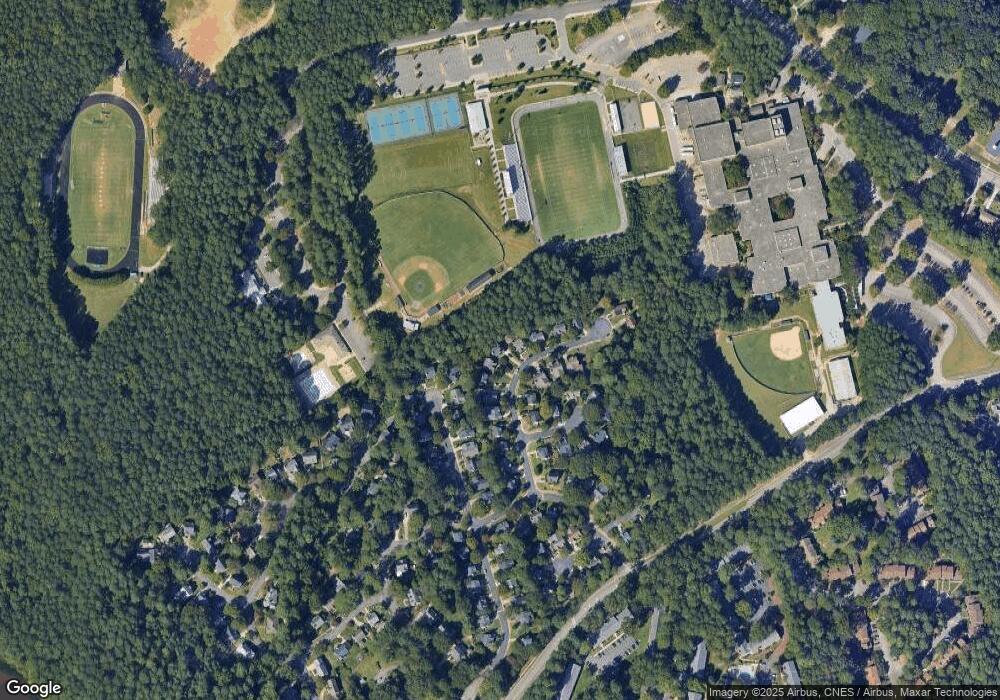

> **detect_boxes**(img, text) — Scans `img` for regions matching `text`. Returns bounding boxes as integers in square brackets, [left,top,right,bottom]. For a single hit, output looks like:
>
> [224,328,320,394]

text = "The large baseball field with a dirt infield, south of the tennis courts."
[374,190,504,322]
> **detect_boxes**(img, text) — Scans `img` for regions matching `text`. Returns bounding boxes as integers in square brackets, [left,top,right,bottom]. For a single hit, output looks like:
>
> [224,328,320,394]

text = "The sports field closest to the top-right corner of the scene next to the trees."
[615,130,674,176]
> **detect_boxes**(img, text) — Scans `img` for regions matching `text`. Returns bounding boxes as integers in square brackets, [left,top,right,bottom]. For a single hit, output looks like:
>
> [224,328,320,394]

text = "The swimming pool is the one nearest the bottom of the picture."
[729,663,758,685]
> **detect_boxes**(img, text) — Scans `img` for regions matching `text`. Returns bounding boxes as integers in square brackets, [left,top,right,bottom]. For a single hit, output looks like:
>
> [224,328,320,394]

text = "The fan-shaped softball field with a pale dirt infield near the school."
[731,322,815,394]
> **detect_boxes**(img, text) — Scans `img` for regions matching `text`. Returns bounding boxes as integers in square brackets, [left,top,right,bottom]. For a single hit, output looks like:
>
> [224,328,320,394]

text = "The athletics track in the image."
[60,93,145,278]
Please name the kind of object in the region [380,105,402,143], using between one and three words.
tennis court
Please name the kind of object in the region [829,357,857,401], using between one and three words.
building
